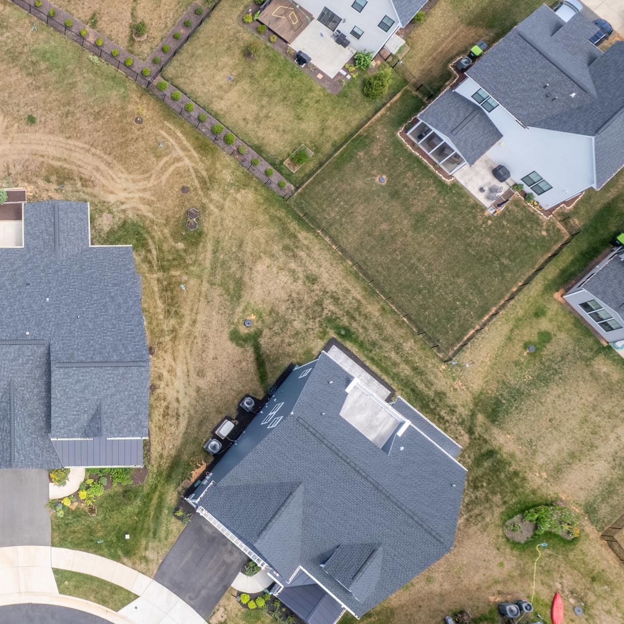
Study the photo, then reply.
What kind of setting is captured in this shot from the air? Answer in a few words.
residential area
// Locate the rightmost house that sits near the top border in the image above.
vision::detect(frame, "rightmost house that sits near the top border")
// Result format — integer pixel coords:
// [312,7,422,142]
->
[407,1,624,212]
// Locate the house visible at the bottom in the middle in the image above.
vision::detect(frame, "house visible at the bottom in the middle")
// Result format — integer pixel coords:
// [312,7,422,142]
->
[184,349,467,624]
